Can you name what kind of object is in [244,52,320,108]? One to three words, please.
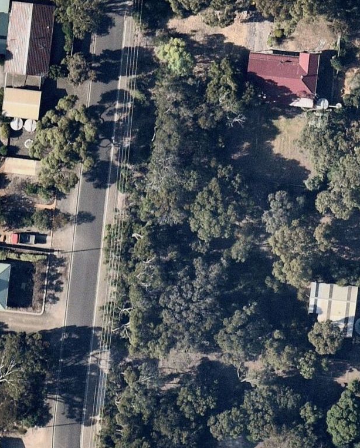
house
